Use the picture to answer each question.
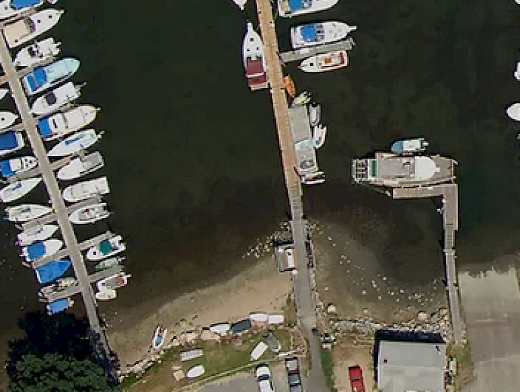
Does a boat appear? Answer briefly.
Yes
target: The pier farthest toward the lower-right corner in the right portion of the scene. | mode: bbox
[384,160,461,344]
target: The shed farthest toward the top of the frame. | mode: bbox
[274,244,294,275]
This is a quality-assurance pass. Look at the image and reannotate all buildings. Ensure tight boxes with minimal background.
[376,336,446,391]
[274,244,294,275]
